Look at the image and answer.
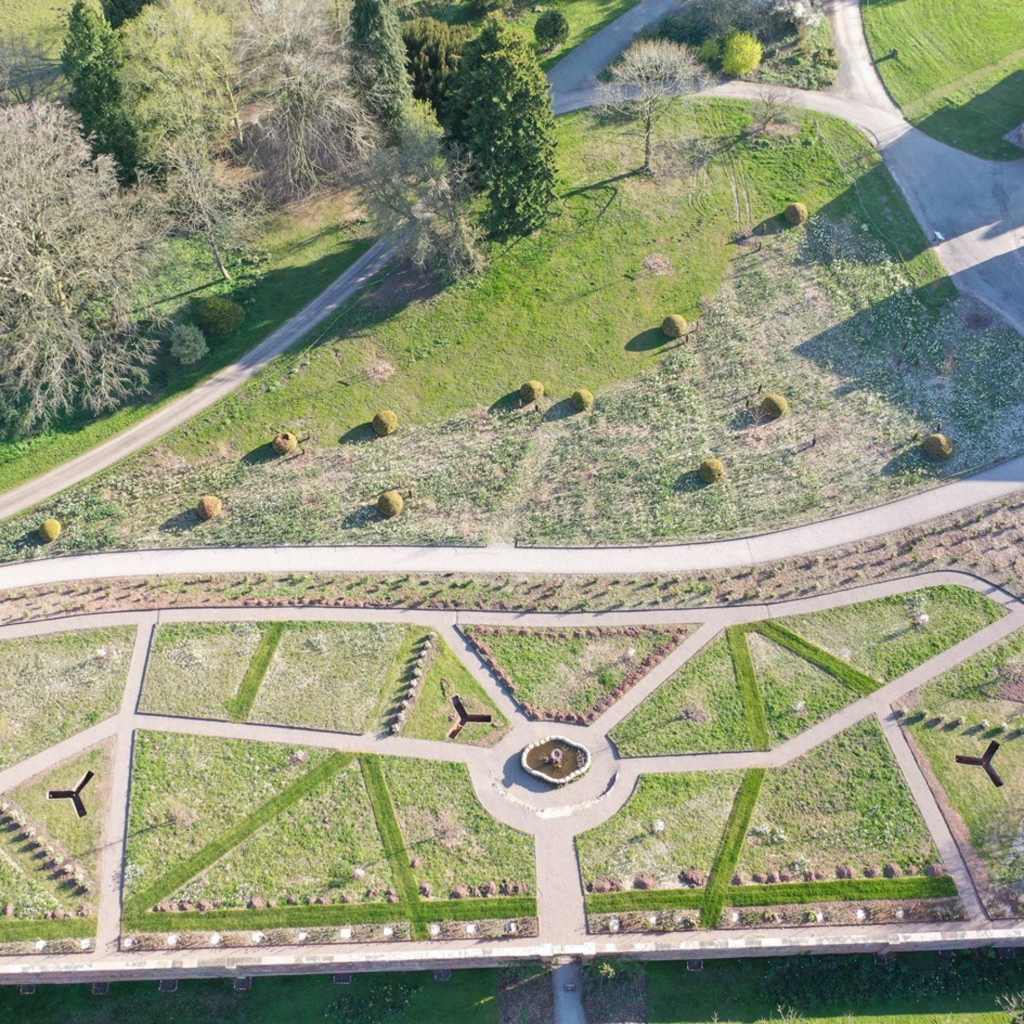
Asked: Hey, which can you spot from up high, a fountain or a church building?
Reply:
fountain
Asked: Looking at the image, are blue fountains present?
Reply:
No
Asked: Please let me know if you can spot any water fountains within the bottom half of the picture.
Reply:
Yes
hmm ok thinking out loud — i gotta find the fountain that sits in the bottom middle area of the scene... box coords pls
[521,735,591,785]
